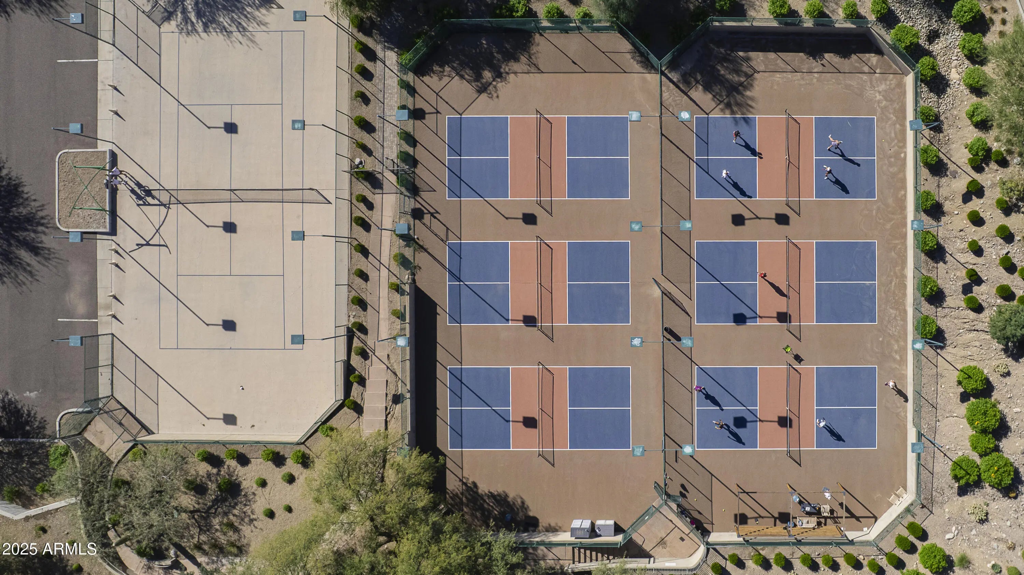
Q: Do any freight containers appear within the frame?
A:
No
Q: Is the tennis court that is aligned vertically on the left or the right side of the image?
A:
left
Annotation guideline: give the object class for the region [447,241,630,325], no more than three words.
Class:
sports court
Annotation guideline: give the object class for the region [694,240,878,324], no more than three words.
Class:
sports court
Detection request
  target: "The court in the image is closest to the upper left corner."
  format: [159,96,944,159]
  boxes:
[159,31,304,350]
